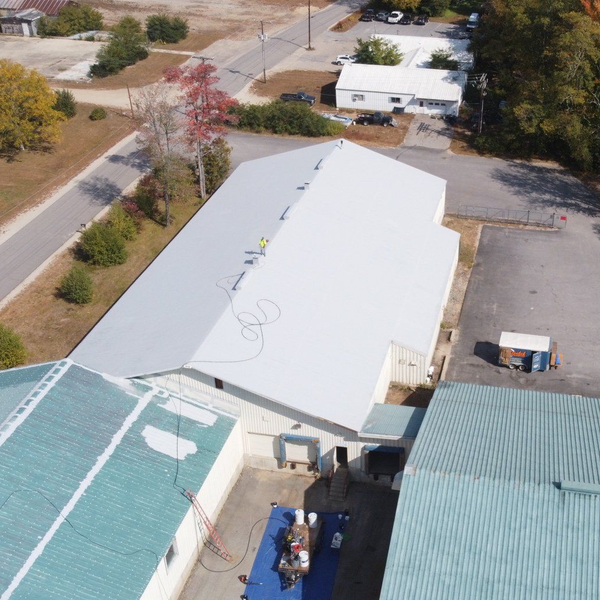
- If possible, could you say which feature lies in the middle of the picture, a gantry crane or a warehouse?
warehouse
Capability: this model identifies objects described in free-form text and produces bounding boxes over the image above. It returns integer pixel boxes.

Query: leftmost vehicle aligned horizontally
[278,87,319,103]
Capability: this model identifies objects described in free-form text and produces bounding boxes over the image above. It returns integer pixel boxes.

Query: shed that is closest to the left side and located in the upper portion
[0,15,32,43]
